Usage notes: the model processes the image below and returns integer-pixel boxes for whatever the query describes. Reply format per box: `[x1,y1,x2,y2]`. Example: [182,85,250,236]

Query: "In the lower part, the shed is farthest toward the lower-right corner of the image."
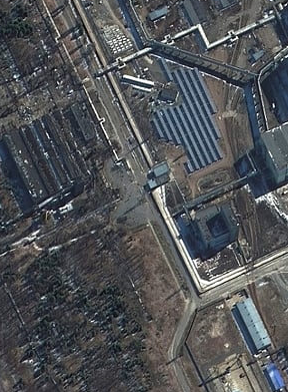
[266,362,286,392]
